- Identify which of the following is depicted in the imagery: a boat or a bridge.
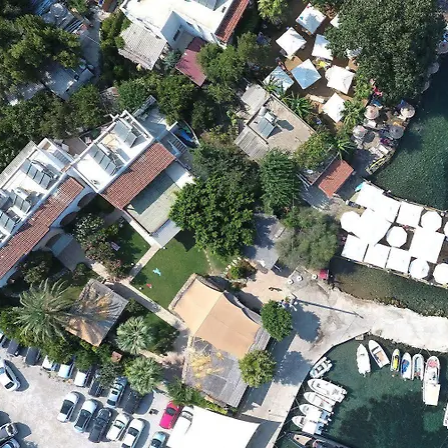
boat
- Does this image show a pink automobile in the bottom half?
Yes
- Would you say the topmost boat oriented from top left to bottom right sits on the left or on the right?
right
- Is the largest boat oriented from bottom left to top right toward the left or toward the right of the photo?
right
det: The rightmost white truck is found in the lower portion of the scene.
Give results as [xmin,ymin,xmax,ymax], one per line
[163,405,192,448]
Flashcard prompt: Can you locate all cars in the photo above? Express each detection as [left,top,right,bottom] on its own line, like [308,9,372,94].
[76,397,100,432]
[73,359,95,388]
[5,334,27,358]
[90,406,114,442]
[0,358,21,390]
[108,411,131,443]
[87,363,112,397]
[105,373,130,408]
[159,401,181,430]
[0,422,21,441]
[148,429,168,448]
[58,388,82,422]
[41,350,62,374]
[122,416,146,448]
[120,382,146,418]
[57,354,77,382]
[0,319,12,343]
[24,332,48,367]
